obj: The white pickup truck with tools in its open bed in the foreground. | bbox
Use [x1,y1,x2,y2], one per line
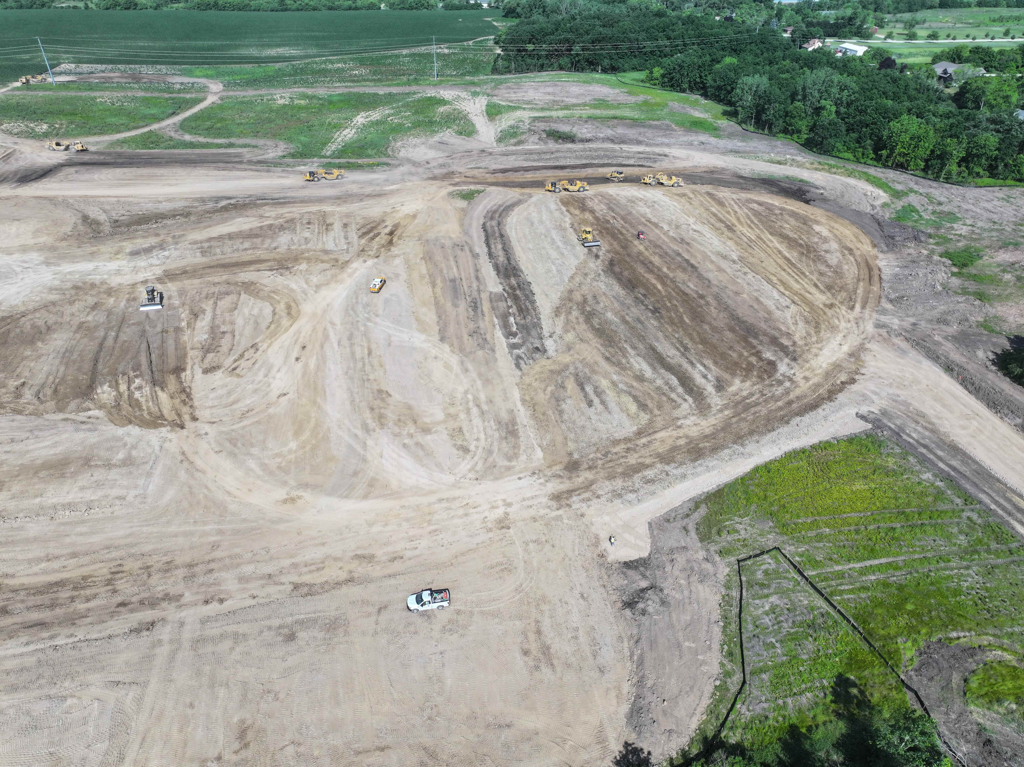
[404,588,453,613]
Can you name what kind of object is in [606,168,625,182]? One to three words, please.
work vehicle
